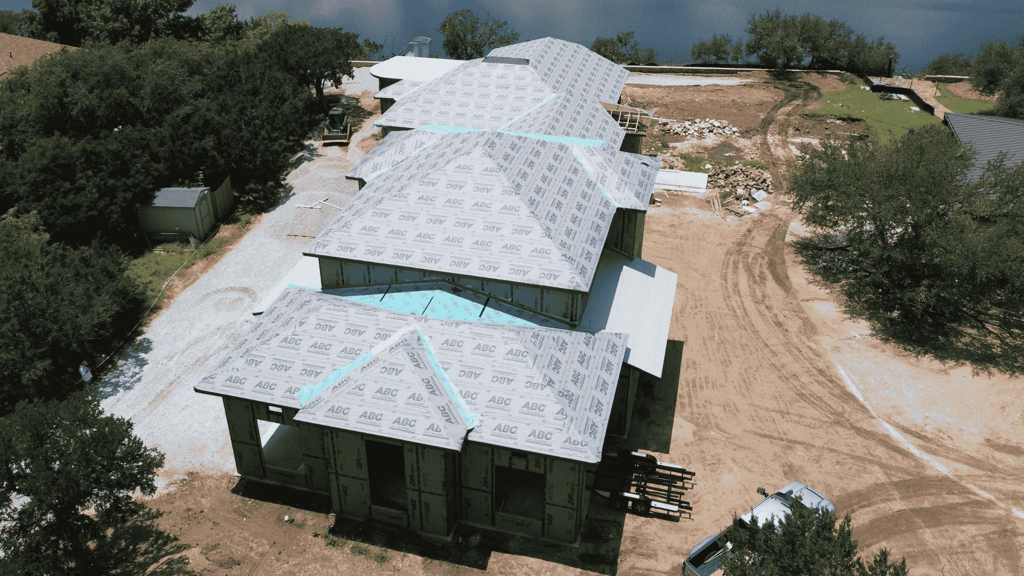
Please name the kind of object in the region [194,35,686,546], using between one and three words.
house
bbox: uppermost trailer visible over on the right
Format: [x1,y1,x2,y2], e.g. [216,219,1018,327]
[588,454,705,517]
